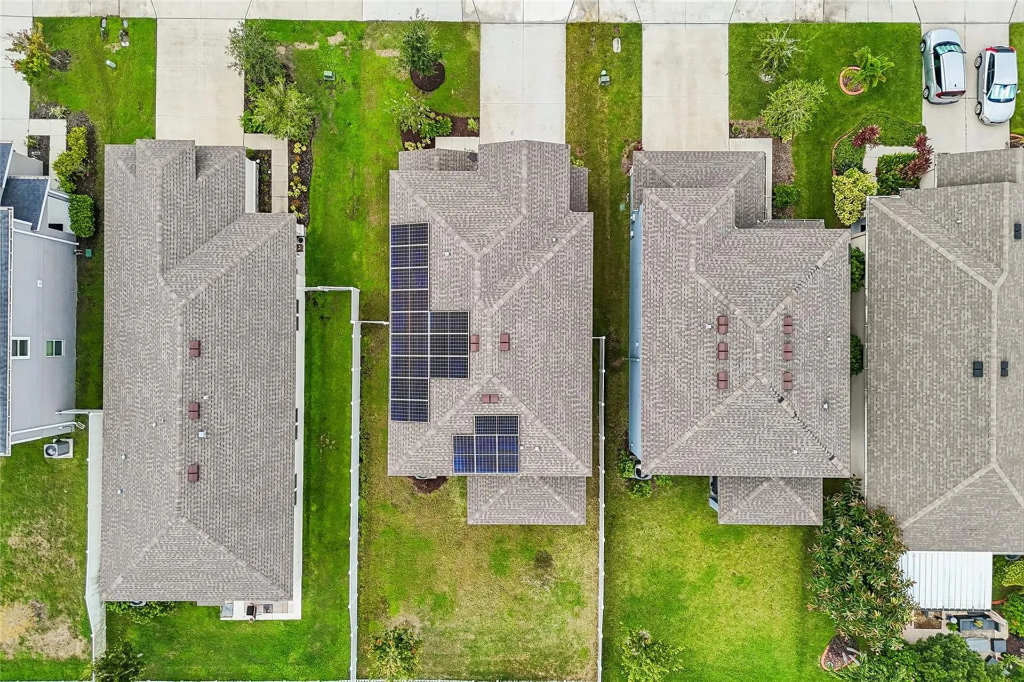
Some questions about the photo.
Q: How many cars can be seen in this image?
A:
2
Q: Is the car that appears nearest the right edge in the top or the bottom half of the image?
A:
top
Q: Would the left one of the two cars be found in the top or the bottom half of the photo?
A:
top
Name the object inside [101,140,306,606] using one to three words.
house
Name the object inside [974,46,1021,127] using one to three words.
car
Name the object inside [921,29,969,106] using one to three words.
car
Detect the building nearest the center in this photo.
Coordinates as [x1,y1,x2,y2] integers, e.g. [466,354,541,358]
[388,140,593,524]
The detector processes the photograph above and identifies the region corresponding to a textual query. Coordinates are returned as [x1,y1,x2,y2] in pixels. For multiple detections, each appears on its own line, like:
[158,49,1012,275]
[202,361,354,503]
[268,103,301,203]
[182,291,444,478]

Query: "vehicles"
[921,29,969,106]
[974,46,1021,127]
